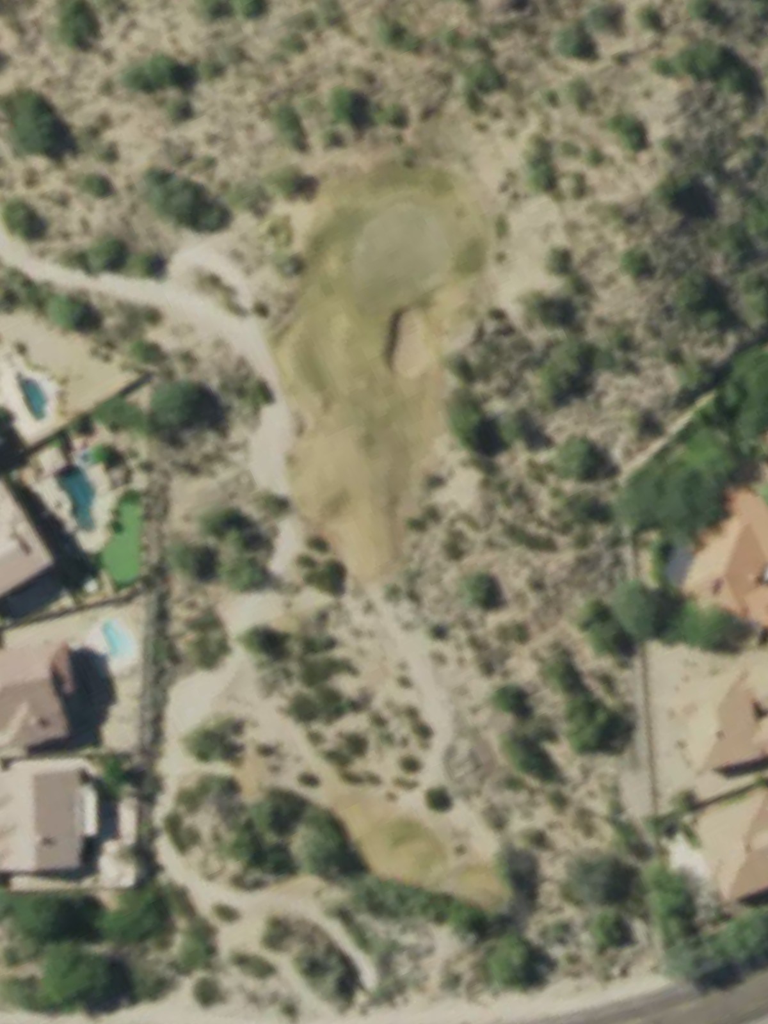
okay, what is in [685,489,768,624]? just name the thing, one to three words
house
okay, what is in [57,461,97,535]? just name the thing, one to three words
swimming pool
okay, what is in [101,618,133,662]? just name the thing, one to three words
swimming pool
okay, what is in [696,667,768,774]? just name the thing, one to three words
house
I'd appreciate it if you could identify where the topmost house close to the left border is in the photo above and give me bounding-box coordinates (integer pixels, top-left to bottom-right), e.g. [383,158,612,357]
[0,483,51,591]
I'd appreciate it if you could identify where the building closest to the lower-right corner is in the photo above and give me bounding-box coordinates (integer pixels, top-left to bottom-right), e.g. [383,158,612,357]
[704,793,768,905]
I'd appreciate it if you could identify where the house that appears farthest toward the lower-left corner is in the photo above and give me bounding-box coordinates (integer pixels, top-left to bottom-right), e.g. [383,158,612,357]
[0,771,84,874]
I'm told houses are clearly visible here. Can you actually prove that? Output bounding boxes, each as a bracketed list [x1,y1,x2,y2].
[0,642,75,756]
[704,793,768,905]
[696,667,768,774]
[0,771,84,874]
[685,489,768,624]
[0,483,51,591]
